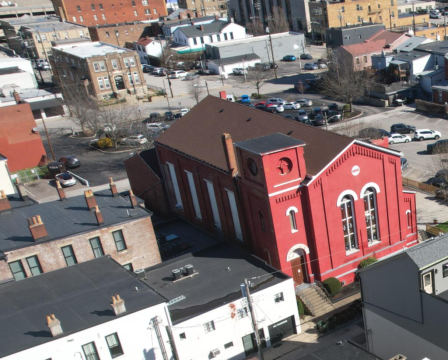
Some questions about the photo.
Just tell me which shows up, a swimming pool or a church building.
church building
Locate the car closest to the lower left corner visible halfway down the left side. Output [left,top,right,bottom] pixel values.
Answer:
[54,172,79,188]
